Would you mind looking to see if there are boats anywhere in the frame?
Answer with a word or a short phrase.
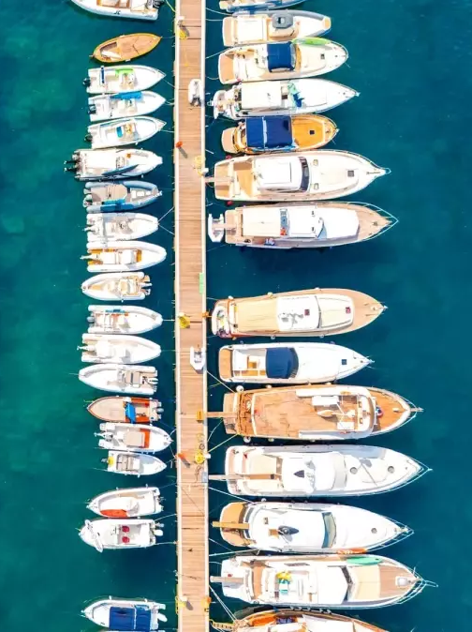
Yes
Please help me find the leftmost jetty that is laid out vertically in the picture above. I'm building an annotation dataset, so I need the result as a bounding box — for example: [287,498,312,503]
[172,0,209,632]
